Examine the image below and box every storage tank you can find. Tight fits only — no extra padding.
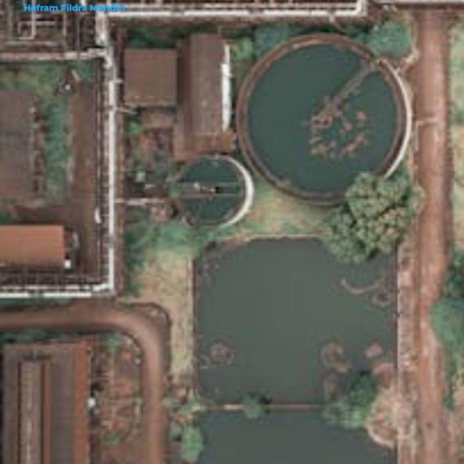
[178,155,257,227]
[238,33,420,202]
